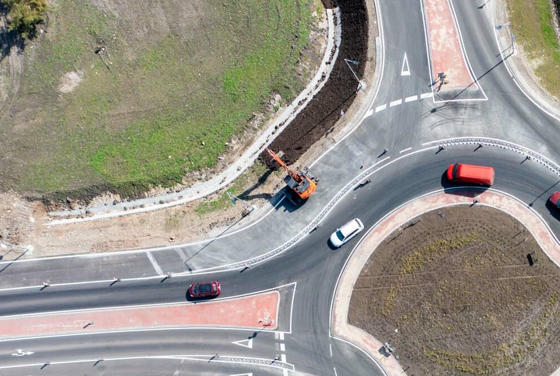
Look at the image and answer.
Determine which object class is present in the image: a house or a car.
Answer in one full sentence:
Of the two, only a car appears.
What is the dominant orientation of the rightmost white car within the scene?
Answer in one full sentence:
Seen from above, the rightmost white car lies at an angle.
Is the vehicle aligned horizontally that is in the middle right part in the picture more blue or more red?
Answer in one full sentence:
The vehicle aligned horizontally that is in the middle right part looks red in the image.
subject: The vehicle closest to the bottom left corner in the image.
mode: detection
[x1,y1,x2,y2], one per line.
[188,281,223,299]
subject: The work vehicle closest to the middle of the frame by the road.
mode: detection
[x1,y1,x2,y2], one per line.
[270,150,324,206]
